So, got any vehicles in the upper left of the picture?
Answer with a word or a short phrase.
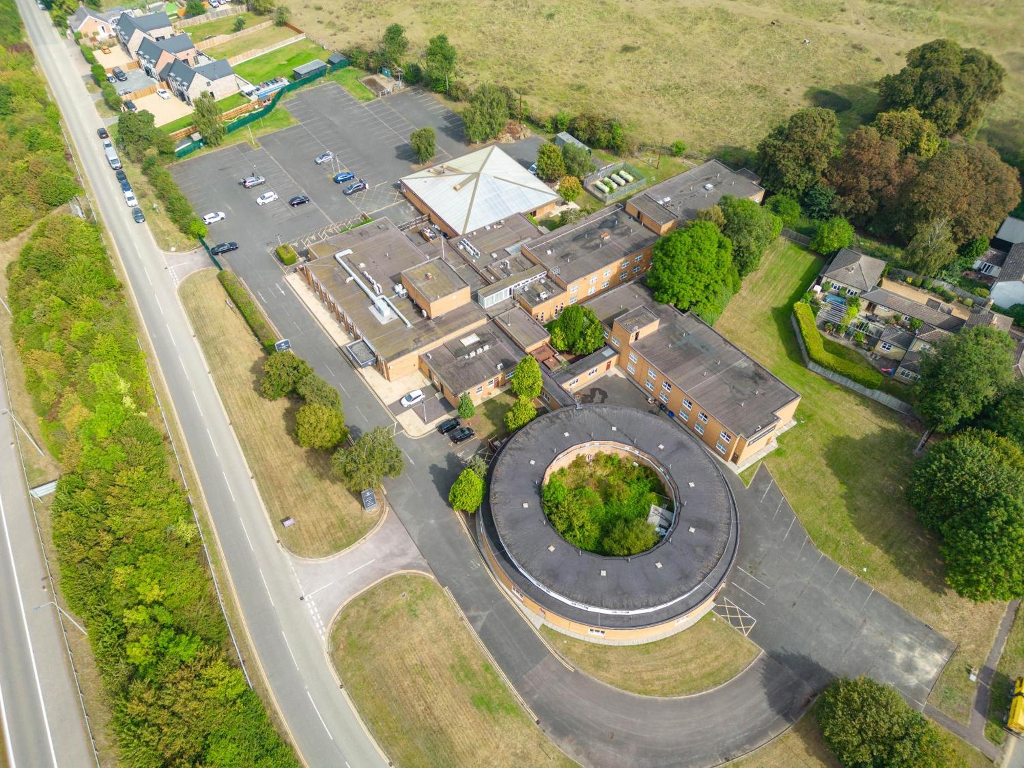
Yes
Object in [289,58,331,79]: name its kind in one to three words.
shed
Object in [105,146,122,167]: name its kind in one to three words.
vehicle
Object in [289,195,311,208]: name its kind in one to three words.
vehicle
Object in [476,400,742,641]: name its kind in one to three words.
building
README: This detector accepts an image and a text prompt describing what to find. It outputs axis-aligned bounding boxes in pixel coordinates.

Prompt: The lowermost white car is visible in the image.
[398,387,427,407]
